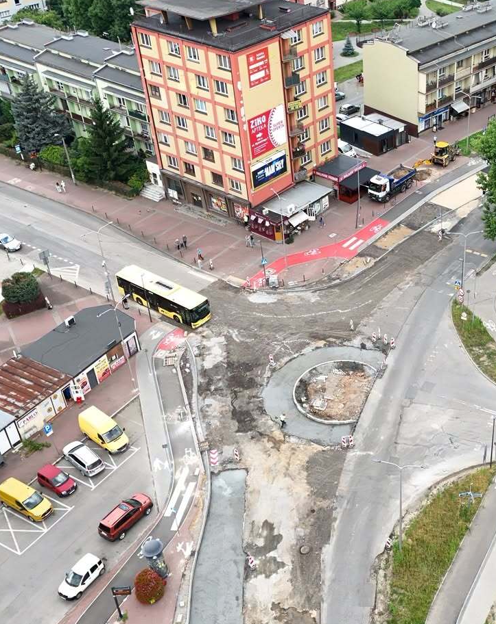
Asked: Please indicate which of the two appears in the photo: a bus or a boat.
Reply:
bus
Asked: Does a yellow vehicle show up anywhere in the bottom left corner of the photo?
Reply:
Yes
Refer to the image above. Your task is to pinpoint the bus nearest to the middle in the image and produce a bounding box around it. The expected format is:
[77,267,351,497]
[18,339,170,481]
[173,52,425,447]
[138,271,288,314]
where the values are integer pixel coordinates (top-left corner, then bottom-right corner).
[112,261,216,331]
